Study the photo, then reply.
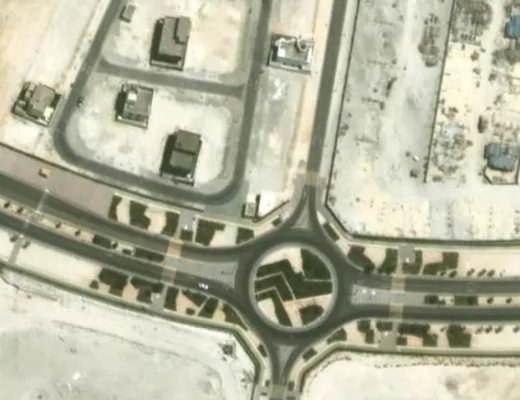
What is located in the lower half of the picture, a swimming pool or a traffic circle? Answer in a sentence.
It is a traffic circle that can be seen in the lower half of the picture.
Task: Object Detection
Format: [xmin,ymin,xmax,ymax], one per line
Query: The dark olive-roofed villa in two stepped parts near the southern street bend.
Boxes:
[169,129,201,176]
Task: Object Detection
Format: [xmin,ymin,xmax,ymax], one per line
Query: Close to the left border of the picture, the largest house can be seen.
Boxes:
[19,83,55,117]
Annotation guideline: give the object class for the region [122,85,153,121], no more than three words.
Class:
house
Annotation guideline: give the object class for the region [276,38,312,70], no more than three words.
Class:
house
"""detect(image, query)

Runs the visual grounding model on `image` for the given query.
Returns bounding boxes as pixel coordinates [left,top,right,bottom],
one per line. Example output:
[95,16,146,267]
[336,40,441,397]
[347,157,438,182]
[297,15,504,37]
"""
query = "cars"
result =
[199,283,209,289]
[77,97,84,107]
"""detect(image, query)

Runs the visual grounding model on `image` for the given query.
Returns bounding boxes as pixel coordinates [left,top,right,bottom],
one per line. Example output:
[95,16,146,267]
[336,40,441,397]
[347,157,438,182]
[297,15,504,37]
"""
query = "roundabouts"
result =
[210,186,390,384]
